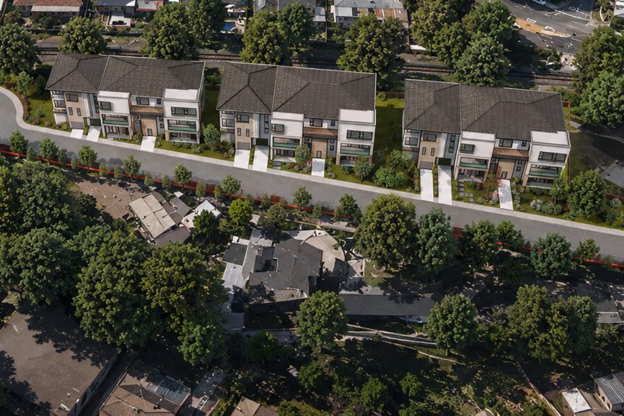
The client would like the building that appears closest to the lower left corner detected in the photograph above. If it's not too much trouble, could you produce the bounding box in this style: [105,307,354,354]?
[0,308,120,416]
